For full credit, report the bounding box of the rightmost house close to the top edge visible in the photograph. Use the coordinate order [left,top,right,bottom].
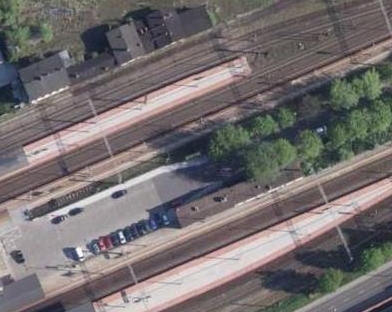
[164,5,213,43]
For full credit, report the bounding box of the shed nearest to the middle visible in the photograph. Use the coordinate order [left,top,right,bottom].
[176,158,301,229]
